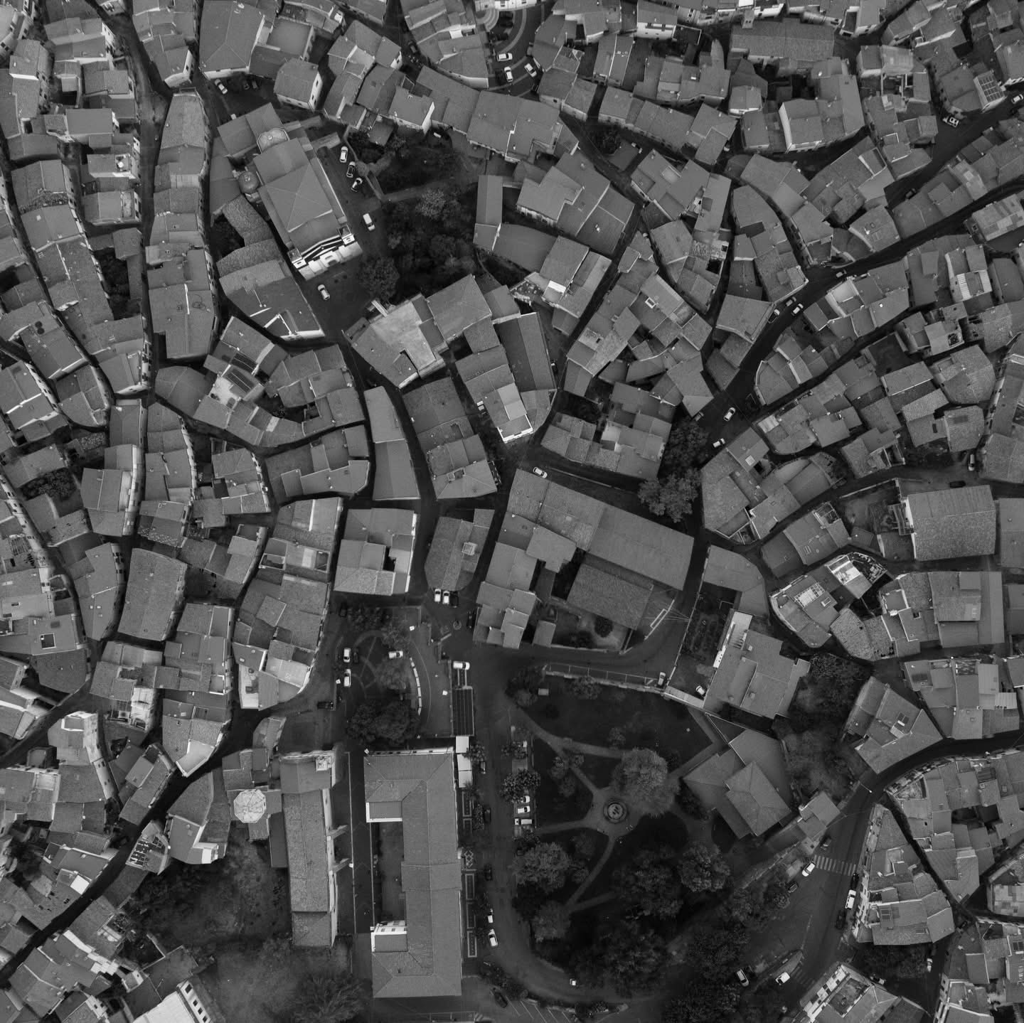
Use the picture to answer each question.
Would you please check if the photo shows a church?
Yes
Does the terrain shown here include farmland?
No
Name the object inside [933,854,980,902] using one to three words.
house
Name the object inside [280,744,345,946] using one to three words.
building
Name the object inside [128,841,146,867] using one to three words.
solar panel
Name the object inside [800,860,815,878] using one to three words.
car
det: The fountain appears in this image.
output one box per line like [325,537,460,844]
[607,803,624,821]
